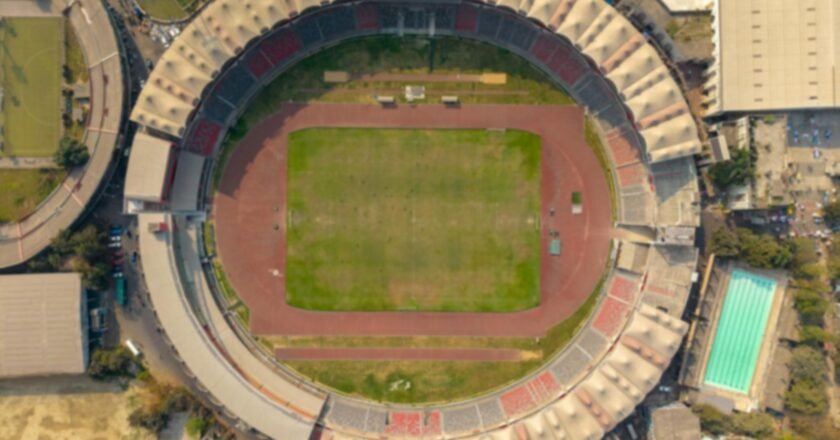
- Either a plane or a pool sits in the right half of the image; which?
pool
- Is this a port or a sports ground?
sports ground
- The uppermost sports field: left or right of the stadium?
left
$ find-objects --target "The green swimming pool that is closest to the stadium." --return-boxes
[701,267,782,401]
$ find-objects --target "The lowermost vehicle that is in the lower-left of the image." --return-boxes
[125,339,140,355]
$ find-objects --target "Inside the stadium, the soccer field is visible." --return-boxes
[287,127,541,313]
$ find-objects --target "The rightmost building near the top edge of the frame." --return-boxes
[689,0,840,118]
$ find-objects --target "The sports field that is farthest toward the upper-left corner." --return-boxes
[0,20,66,157]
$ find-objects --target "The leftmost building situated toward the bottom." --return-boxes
[0,271,101,378]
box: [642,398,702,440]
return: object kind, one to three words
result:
house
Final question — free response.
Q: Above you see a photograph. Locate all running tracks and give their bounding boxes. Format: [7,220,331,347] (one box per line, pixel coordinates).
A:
[213,103,612,335]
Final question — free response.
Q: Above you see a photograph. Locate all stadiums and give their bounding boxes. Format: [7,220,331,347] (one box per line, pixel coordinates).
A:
[124,0,699,440]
